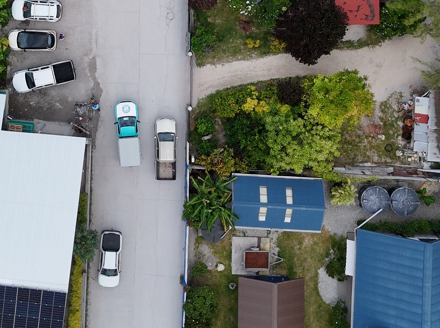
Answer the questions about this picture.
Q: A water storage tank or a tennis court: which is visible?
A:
water storage tank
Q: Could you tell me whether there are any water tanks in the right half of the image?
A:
Yes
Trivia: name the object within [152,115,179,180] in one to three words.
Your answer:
truck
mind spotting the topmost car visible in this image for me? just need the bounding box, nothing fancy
[11,0,63,24]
